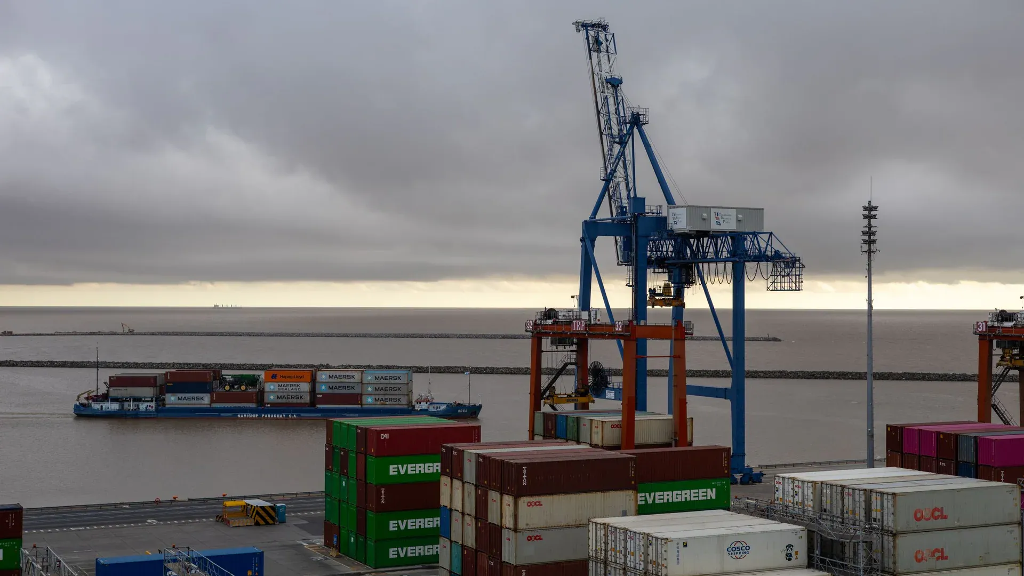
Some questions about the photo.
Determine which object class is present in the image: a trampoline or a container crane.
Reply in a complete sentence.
There is a container crane in the scene.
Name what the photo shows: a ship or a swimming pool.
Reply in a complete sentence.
Of the two, only a ship appears.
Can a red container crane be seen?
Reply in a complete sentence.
Yes, this view includes a red container crane.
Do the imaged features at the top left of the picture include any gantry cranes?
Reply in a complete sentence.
No, at the top left of the picture there is no gantry crane.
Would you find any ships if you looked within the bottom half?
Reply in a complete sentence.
Yes, a ship can be seen within the bottom half.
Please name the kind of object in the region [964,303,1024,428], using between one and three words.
container crane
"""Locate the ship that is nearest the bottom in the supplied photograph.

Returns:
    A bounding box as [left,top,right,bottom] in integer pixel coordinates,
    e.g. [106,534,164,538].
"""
[75,350,482,419]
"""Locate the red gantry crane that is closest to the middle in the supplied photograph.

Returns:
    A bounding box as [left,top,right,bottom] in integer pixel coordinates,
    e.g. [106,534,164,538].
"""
[518,296,702,450]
